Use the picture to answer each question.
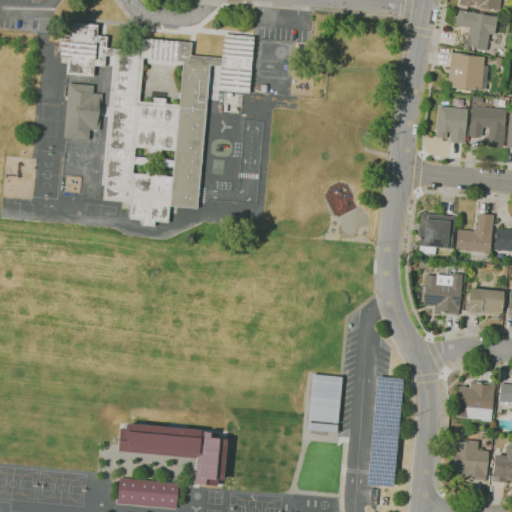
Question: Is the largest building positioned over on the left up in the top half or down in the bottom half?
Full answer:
You can find the largest building positioned over on the left in the top half.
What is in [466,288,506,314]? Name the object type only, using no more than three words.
house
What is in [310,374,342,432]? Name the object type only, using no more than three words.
building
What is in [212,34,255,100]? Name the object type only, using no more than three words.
building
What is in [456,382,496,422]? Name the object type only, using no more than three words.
house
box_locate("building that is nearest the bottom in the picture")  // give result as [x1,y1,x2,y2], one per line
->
[116,480,178,509]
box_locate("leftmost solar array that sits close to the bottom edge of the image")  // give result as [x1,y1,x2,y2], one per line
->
[368,377,402,486]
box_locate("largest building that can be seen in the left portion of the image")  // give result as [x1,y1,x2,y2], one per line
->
[102,39,222,226]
